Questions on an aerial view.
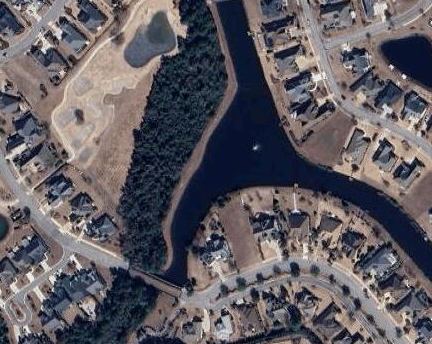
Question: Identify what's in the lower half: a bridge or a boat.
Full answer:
Visible in the lower half is a bridge.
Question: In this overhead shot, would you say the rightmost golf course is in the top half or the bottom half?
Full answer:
It is in the top half that the rightmost golf course appears.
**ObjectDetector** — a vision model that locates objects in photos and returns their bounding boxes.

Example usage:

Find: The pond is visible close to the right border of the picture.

[382,34,432,87]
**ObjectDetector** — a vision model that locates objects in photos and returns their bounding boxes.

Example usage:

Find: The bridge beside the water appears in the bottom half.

[125,260,184,297]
